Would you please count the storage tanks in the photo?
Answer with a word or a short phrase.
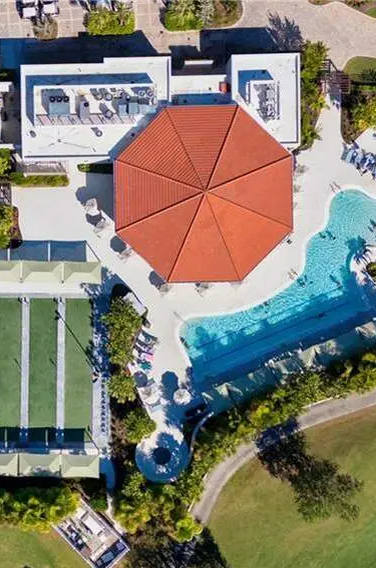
zero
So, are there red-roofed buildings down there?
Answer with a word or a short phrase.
Yes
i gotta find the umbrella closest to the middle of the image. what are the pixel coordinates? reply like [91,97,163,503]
[160,281,176,295]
